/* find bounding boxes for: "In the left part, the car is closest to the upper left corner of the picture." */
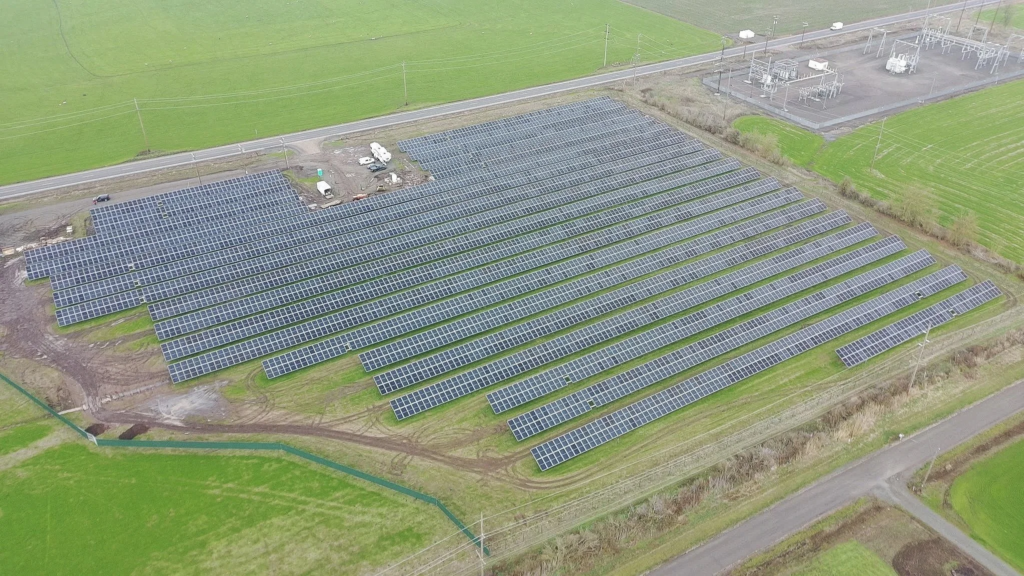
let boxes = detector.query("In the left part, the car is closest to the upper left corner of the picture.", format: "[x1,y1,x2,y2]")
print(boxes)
[90,192,111,204]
